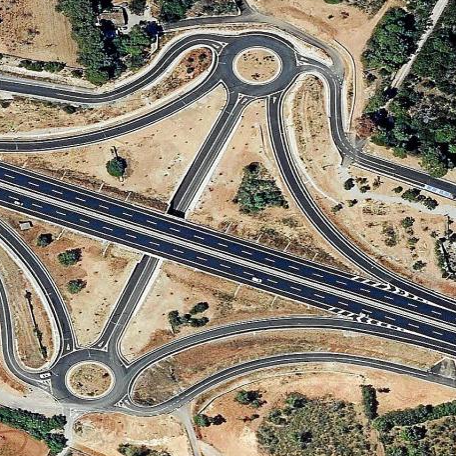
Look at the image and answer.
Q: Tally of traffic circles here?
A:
2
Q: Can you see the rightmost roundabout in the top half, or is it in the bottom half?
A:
top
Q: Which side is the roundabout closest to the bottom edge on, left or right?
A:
left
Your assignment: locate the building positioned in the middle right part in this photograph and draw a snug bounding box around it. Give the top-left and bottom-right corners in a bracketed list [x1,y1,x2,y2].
[442,242,456,275]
